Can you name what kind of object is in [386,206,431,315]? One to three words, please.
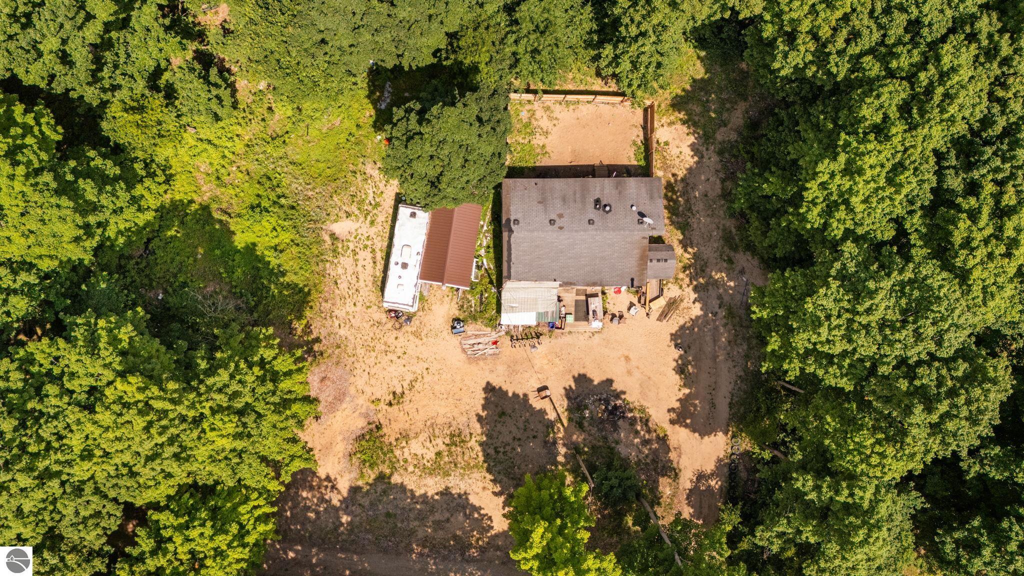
trailer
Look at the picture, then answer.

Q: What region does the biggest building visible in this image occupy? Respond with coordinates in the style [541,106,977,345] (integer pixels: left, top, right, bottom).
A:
[502,178,676,289]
